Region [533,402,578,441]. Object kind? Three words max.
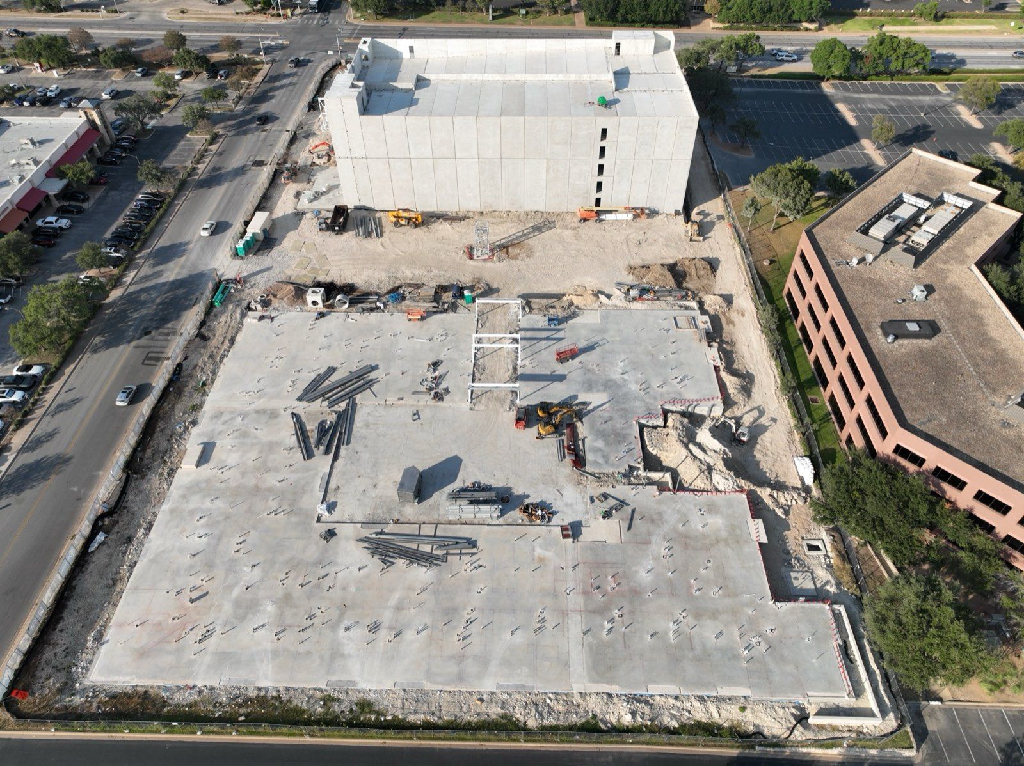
work vehicle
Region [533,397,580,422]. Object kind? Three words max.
work vehicle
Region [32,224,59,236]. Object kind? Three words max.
vehicle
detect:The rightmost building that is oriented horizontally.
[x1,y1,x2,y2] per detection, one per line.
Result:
[324,30,700,213]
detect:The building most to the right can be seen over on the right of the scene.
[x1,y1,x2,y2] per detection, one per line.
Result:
[786,149,1024,587]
